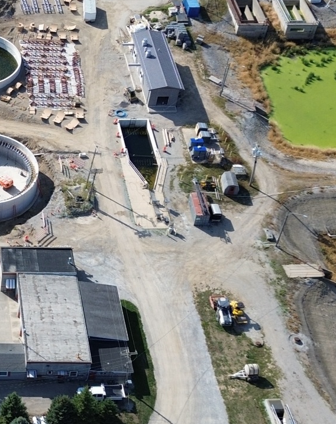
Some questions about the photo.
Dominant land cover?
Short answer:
paved ground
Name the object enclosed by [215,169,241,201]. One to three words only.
shed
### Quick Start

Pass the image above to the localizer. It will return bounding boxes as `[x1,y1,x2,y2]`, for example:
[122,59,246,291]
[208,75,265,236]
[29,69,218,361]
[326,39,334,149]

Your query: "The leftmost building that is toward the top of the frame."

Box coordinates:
[123,27,184,114]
